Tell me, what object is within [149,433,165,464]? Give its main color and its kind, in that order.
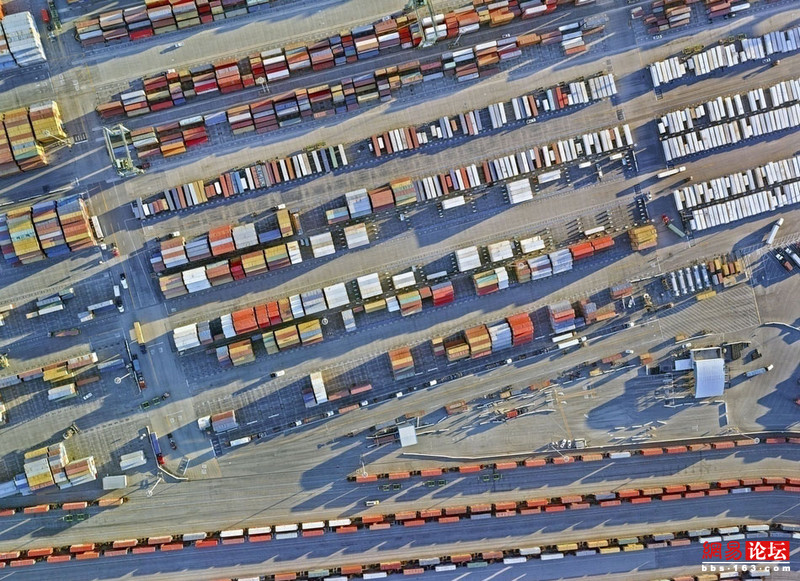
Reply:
blue vehicle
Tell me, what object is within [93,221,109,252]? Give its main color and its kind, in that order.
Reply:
white vehicle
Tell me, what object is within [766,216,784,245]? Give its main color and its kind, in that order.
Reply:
white vehicle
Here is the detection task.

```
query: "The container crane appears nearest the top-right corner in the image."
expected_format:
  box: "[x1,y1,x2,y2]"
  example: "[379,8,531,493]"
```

[406,0,441,53]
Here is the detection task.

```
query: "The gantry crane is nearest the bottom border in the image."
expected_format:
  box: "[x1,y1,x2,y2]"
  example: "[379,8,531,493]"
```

[102,122,148,179]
